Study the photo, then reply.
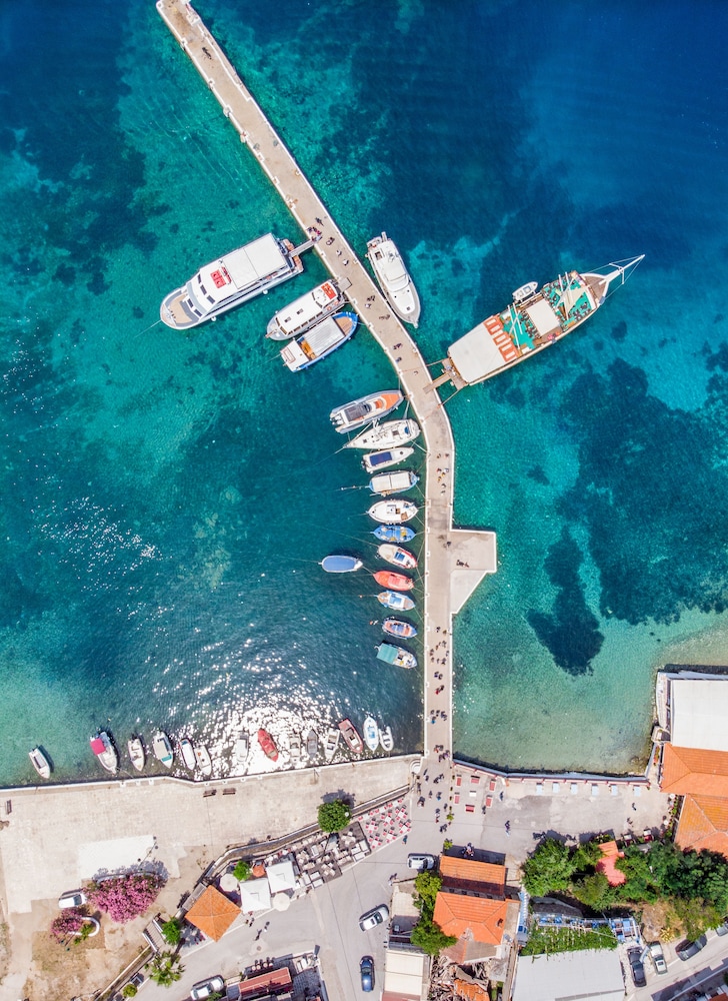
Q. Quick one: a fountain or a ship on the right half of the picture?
ship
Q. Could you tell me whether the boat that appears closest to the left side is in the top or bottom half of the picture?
bottom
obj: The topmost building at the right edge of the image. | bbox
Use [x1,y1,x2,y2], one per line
[651,663,728,751]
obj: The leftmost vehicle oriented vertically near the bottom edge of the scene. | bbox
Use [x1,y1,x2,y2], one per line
[359,958,376,996]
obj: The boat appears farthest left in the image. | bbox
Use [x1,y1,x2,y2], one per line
[27,748,51,779]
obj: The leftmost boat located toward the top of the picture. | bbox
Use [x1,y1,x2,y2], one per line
[158,234,304,325]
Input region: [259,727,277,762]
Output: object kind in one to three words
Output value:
boat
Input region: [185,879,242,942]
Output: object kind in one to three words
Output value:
gazebo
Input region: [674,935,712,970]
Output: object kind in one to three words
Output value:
car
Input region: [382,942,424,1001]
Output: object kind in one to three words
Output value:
house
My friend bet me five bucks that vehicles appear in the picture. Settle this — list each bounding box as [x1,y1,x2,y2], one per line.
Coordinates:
[53,891,87,913]
[406,854,441,875]
[674,935,712,970]
[649,942,672,980]
[188,977,225,1001]
[626,949,651,992]
[356,905,391,936]
[359,958,376,996]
